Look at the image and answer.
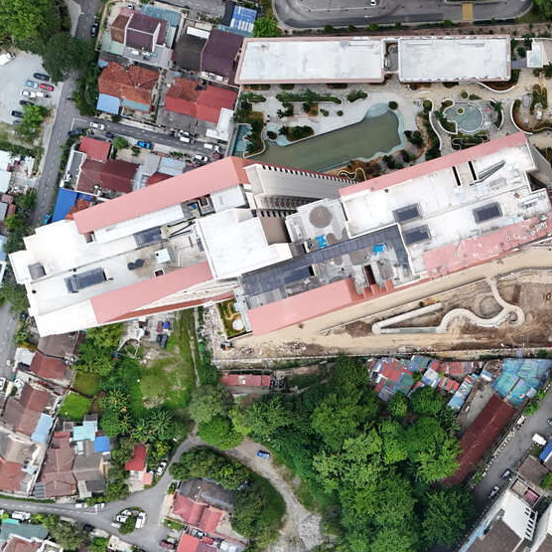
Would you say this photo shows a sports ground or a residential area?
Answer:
residential area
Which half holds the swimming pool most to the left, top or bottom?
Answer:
top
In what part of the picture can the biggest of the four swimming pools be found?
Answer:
top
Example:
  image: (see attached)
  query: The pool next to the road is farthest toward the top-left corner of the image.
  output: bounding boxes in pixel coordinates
[231,123,252,157]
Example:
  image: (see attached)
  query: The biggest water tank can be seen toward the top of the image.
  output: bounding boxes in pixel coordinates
[309,205,335,227]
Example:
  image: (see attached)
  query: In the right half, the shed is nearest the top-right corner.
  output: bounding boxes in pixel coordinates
[528,38,545,70]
